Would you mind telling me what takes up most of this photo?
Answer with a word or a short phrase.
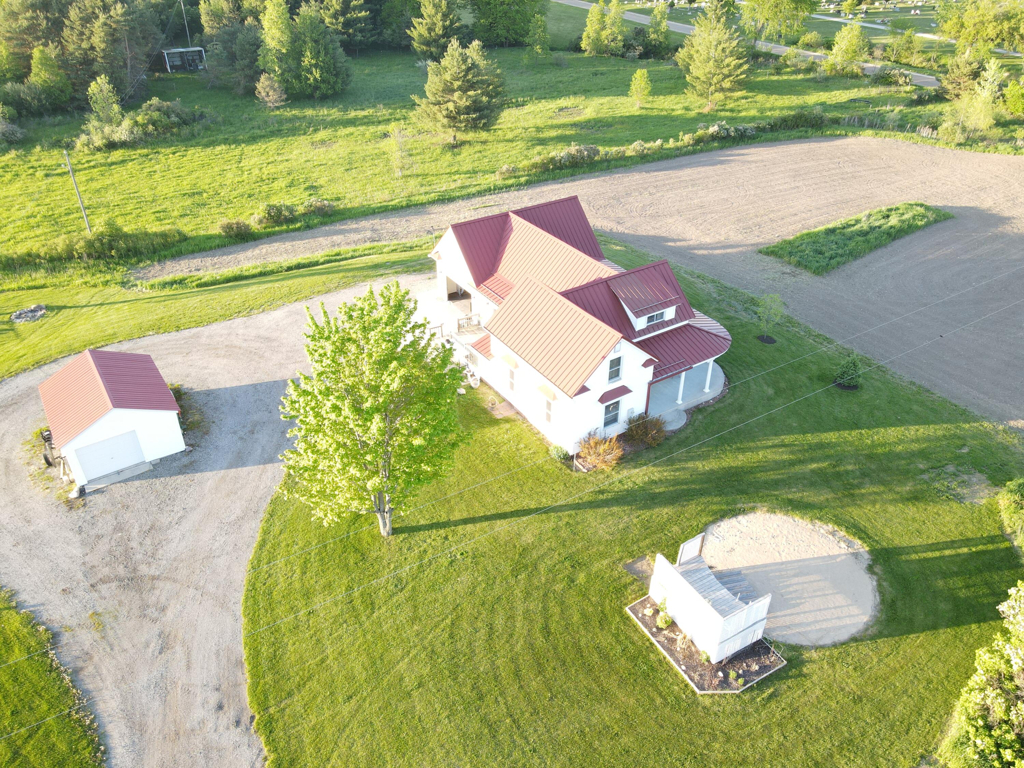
grass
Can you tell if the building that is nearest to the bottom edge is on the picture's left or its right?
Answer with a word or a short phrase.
left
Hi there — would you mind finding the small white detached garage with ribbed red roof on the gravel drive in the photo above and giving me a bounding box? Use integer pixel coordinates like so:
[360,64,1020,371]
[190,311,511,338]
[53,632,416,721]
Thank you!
[37,348,185,493]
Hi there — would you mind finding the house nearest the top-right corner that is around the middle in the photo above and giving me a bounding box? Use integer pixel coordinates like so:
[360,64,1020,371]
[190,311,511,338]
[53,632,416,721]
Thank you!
[412,195,733,459]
